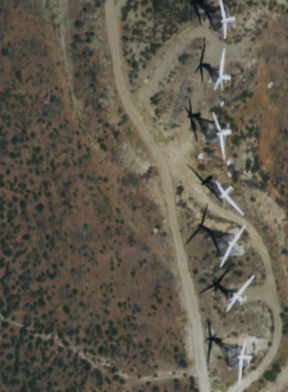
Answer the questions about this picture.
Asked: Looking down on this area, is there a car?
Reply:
No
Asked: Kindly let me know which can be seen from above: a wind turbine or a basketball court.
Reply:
wind turbine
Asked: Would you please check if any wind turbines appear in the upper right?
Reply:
Yes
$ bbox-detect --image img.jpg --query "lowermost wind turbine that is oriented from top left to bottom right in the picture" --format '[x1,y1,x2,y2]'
[212,182,245,216]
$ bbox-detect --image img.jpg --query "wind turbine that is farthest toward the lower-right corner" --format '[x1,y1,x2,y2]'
[226,338,254,386]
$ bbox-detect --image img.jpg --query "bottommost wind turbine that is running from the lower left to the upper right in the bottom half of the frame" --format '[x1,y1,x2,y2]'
[226,272,254,310]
